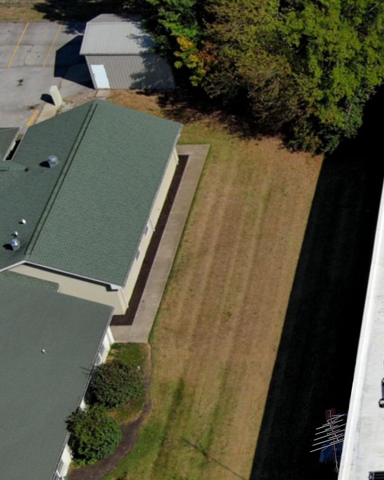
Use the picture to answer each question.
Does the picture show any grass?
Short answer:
Yes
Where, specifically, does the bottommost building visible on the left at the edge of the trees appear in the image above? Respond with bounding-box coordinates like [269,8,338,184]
[0,98,185,480]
